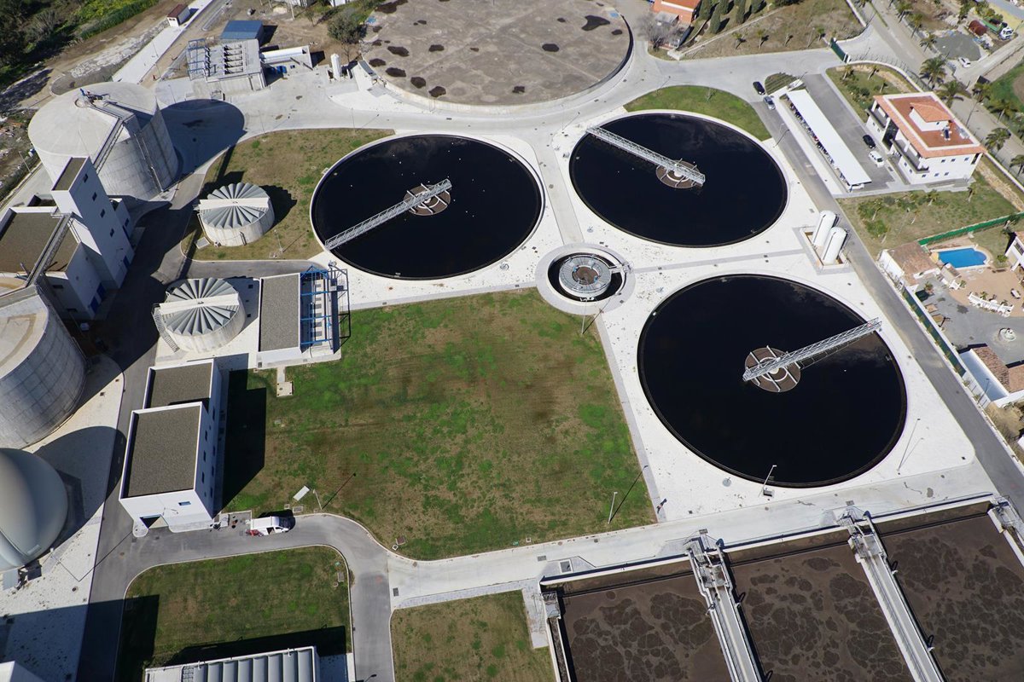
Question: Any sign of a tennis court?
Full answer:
No, there is no tennis court in the image.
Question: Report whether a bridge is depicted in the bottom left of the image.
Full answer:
No, looking in the bottom left of the image, there is no bridge.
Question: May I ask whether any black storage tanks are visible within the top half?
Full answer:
Yes, a black storage tank appears within the top half.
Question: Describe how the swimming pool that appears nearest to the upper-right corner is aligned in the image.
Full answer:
The swimming pool that appears nearest to the upper-right corner is laid out from side to side.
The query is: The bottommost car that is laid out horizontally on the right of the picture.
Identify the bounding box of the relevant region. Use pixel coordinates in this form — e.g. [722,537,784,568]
[846,182,875,197]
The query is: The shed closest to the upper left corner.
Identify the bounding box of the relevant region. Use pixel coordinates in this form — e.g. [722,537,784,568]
[165,1,191,26]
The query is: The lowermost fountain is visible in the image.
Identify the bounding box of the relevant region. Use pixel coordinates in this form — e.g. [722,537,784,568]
[999,326,1018,340]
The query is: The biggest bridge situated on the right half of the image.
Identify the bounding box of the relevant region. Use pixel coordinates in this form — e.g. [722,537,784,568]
[740,315,885,381]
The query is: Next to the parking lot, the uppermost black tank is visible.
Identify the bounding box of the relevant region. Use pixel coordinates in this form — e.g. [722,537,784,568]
[567,110,790,252]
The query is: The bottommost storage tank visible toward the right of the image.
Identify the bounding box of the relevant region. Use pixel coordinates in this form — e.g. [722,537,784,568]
[631,272,913,492]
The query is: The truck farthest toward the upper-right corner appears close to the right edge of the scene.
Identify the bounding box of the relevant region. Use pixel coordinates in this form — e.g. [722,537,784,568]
[979,13,1017,34]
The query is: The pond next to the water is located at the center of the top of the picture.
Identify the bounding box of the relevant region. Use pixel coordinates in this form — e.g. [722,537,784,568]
[347,0,636,118]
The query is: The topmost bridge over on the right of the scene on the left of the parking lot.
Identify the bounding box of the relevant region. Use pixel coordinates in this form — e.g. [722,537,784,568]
[584,124,707,184]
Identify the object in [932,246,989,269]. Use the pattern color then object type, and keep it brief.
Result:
blue swimming pool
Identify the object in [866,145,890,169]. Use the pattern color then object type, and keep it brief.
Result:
white vehicle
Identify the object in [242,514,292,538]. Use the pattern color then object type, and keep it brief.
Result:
white vehicle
